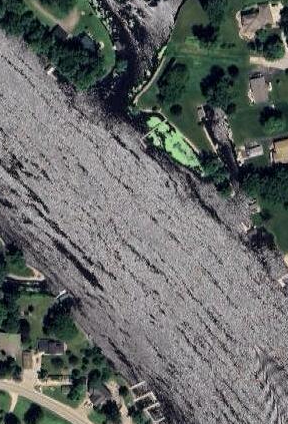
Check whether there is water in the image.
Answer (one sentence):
Yes, water can be seen from above here.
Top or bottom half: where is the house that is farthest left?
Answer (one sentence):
It is in the bottom half that the house that is farthest left appears.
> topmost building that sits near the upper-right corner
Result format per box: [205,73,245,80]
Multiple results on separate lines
[239,5,272,38]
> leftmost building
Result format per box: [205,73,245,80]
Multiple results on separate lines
[0,332,21,356]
